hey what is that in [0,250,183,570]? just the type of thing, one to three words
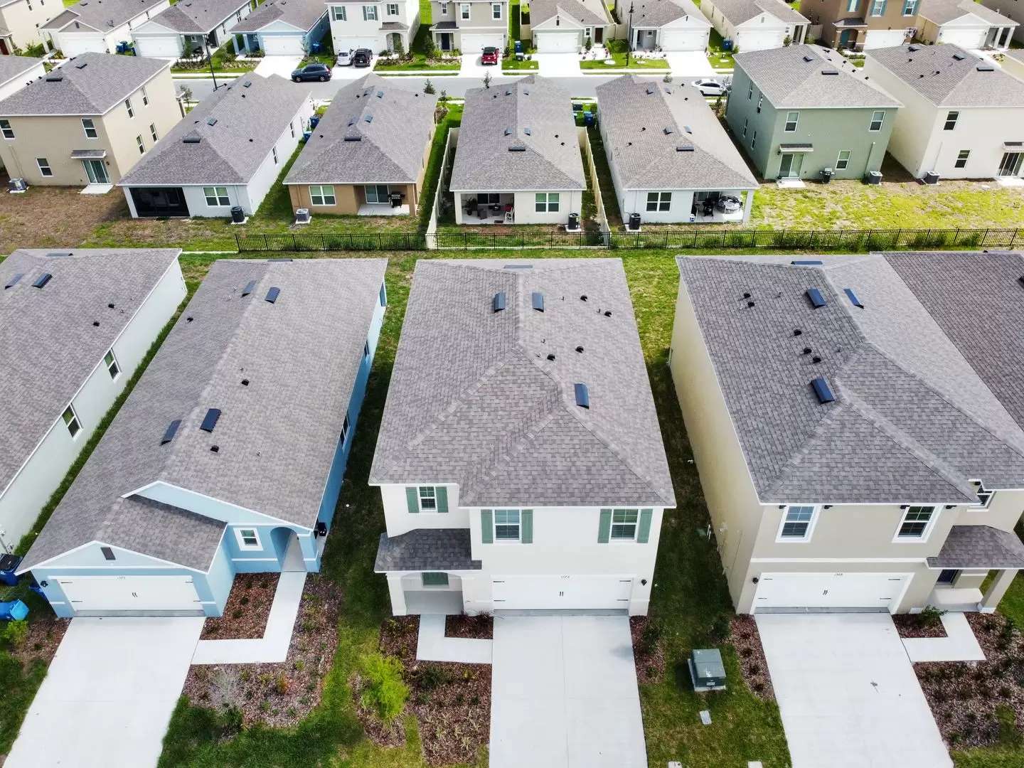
house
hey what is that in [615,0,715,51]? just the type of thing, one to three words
house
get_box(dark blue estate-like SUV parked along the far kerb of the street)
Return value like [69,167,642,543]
[286,63,335,84]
